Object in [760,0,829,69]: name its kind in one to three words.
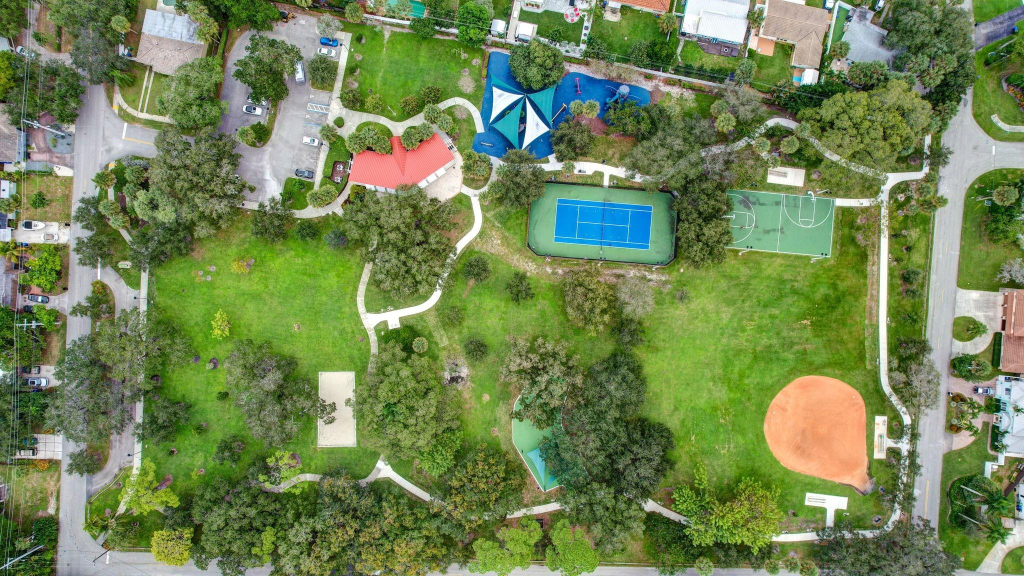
house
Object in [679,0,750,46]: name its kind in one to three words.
house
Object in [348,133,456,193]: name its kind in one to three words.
building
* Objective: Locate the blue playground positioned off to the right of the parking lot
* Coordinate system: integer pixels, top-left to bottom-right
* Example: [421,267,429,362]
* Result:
[473,51,650,159]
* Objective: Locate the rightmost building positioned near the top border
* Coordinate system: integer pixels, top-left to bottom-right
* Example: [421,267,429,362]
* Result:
[840,7,903,71]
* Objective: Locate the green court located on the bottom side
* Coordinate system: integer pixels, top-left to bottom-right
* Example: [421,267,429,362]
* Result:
[512,376,587,491]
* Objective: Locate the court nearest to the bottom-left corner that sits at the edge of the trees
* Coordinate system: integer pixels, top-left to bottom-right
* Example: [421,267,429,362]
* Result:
[317,371,356,447]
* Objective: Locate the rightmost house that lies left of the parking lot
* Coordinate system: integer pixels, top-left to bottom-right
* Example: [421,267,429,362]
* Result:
[136,9,207,75]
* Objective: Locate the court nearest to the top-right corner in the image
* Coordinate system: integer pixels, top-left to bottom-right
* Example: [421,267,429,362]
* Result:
[723,189,835,258]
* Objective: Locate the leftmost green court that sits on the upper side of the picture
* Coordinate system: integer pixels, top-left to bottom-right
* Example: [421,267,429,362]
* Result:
[528,181,680,265]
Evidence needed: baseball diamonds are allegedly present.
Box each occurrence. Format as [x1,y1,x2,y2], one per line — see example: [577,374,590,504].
[764,376,875,494]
